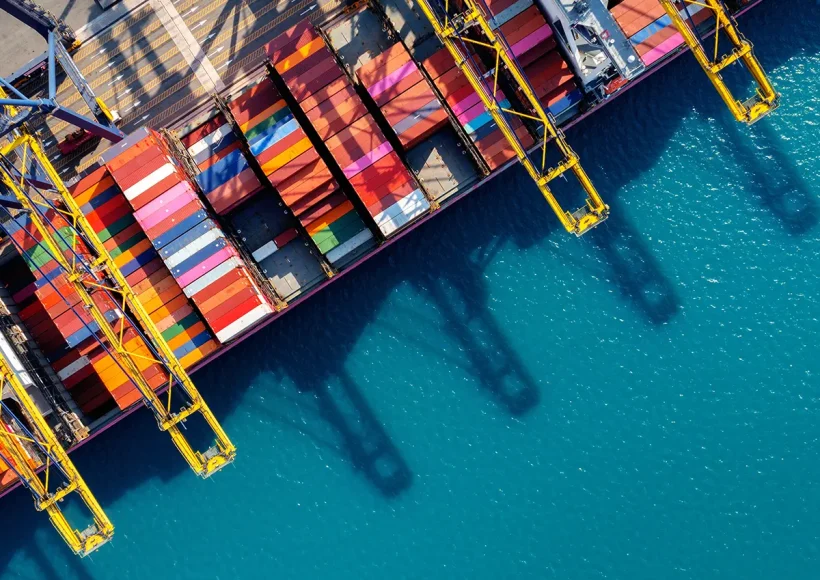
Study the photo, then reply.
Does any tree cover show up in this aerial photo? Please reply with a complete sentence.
No, the picture contains no tree cover.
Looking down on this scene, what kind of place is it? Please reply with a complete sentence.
What you see here is a port.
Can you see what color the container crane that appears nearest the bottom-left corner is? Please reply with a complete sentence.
From above, the container crane that appears nearest the bottom-left corner appears yellow.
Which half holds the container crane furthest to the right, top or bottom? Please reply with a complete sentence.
The container crane furthest to the right sits in the top half of the picture.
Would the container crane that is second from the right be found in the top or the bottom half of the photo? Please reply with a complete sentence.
The top half of the photo is where the container crane that is second from the right is.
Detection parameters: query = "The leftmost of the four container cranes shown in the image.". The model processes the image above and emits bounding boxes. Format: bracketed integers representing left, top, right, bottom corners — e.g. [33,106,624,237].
[0,348,114,560]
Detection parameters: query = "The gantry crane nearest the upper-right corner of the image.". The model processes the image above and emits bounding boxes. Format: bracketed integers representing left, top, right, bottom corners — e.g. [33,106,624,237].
[662,0,786,125]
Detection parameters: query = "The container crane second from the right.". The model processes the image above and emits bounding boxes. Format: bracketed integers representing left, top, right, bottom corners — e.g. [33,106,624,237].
[420,0,612,236]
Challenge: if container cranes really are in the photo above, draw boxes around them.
[0,0,235,480]
[420,0,612,236]
[662,0,786,125]
[0,348,114,560]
